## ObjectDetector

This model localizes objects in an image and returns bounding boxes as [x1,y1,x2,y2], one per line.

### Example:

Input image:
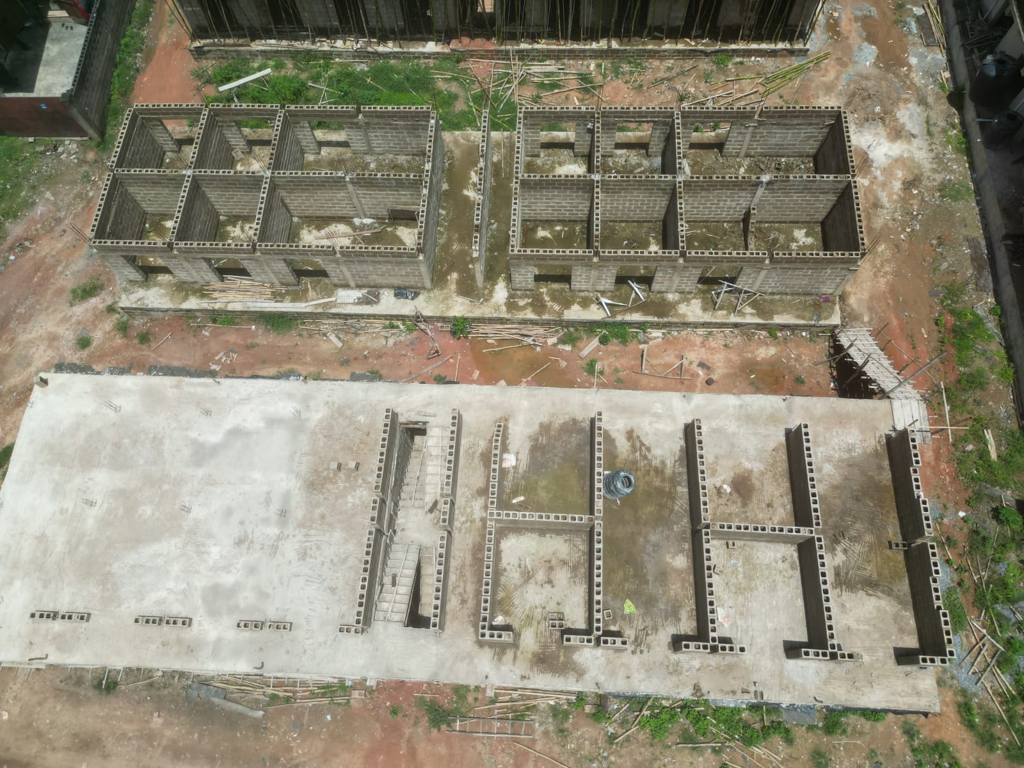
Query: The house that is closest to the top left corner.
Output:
[0,0,97,142]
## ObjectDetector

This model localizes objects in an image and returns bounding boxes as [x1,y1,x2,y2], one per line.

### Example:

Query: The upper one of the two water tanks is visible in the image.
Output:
[972,58,1023,110]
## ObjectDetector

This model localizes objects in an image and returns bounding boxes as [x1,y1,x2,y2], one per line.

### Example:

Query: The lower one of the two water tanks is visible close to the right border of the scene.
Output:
[982,113,1024,153]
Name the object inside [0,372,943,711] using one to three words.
building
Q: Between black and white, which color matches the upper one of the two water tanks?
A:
black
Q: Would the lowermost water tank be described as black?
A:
Yes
